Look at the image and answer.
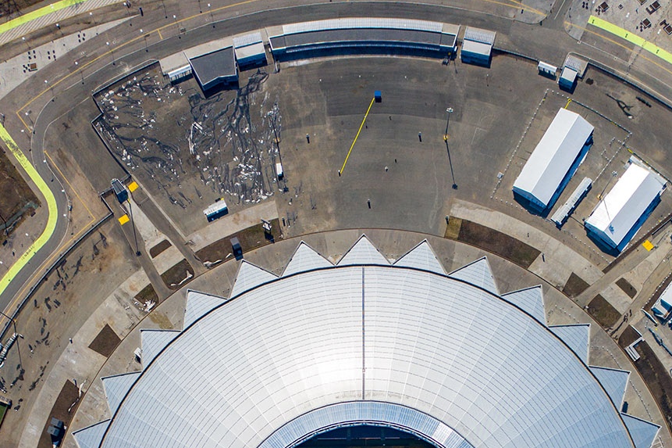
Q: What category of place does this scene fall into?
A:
sports ground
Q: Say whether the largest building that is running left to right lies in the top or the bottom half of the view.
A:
top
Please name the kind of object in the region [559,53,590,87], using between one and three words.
building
